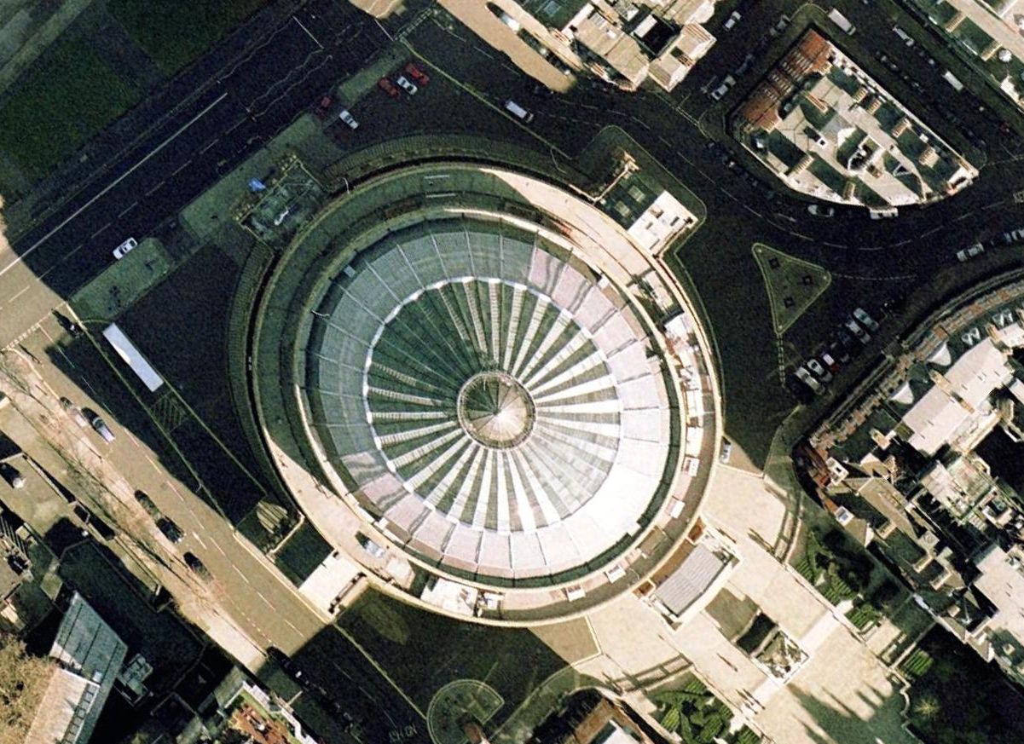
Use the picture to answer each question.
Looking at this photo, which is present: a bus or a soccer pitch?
bus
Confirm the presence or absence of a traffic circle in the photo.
No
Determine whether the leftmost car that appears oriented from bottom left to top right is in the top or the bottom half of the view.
top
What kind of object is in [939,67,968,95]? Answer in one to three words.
van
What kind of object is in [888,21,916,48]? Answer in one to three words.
car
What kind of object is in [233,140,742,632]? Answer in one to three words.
building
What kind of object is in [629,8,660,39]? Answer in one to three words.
shed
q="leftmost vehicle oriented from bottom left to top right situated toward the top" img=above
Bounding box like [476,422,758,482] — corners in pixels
[112,237,139,259]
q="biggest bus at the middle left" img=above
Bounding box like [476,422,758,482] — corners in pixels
[100,320,168,393]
